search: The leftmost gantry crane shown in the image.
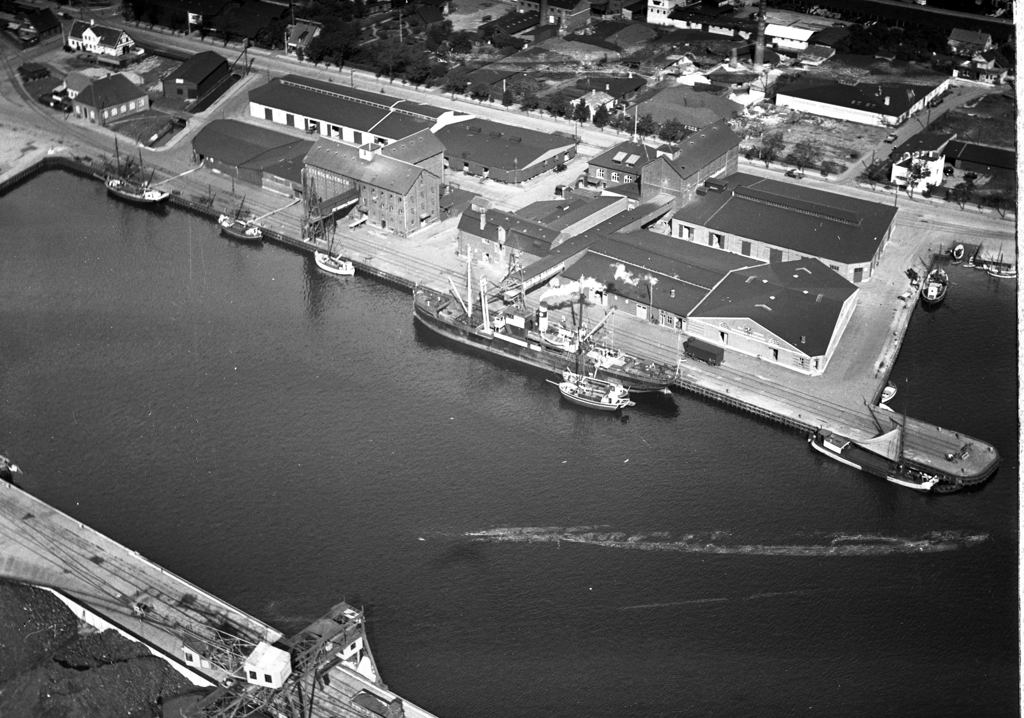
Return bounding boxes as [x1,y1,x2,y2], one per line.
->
[131,590,394,718]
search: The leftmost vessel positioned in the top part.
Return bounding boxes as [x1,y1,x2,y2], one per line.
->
[100,137,169,205]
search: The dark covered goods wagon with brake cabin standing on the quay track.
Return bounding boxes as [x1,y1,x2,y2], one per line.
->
[682,336,725,364]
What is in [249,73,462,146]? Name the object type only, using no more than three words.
building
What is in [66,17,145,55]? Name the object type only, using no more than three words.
house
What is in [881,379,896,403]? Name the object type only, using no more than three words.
boat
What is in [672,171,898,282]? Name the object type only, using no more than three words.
warehouse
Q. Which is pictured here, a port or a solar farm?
port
